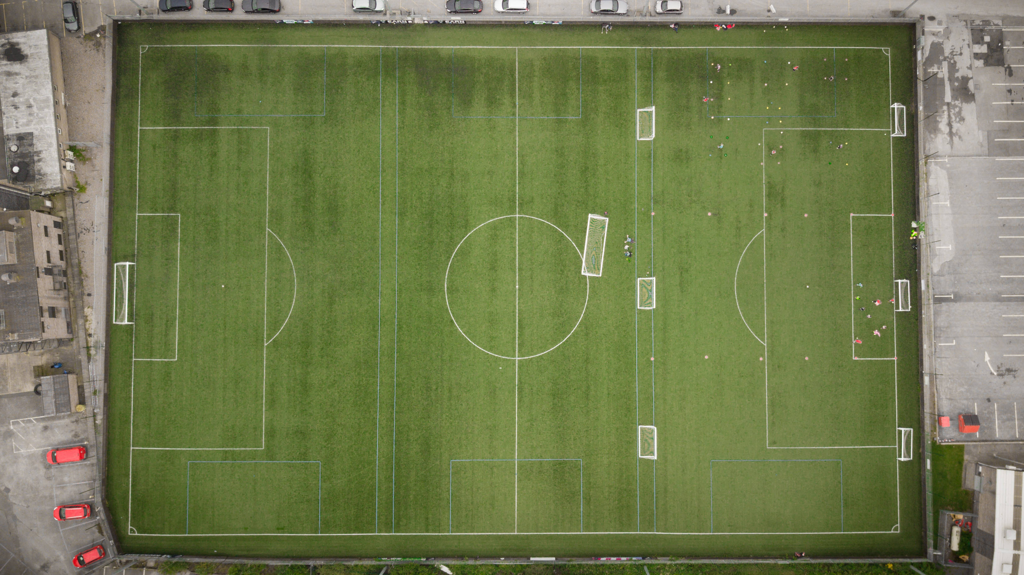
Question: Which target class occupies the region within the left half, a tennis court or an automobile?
automobile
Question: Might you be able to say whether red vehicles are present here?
Yes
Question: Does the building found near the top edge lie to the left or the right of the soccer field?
left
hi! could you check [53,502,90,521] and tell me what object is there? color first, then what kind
red car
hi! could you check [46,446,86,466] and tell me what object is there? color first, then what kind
red vehicle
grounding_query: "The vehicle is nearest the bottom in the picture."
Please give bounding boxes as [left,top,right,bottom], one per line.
[72,544,106,569]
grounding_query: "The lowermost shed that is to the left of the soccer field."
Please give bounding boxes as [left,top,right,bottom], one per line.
[41,373,79,416]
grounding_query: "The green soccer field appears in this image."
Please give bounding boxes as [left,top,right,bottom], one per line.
[106,23,923,557]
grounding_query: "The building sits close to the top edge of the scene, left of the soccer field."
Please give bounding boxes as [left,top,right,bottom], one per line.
[0,27,74,192]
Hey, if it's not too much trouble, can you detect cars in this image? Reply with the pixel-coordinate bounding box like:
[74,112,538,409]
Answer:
[494,0,530,13]
[445,0,482,13]
[72,544,106,569]
[157,0,192,13]
[351,0,384,13]
[63,0,82,34]
[202,0,233,13]
[591,0,628,14]
[241,0,280,13]
[655,0,685,14]
[53,502,90,521]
